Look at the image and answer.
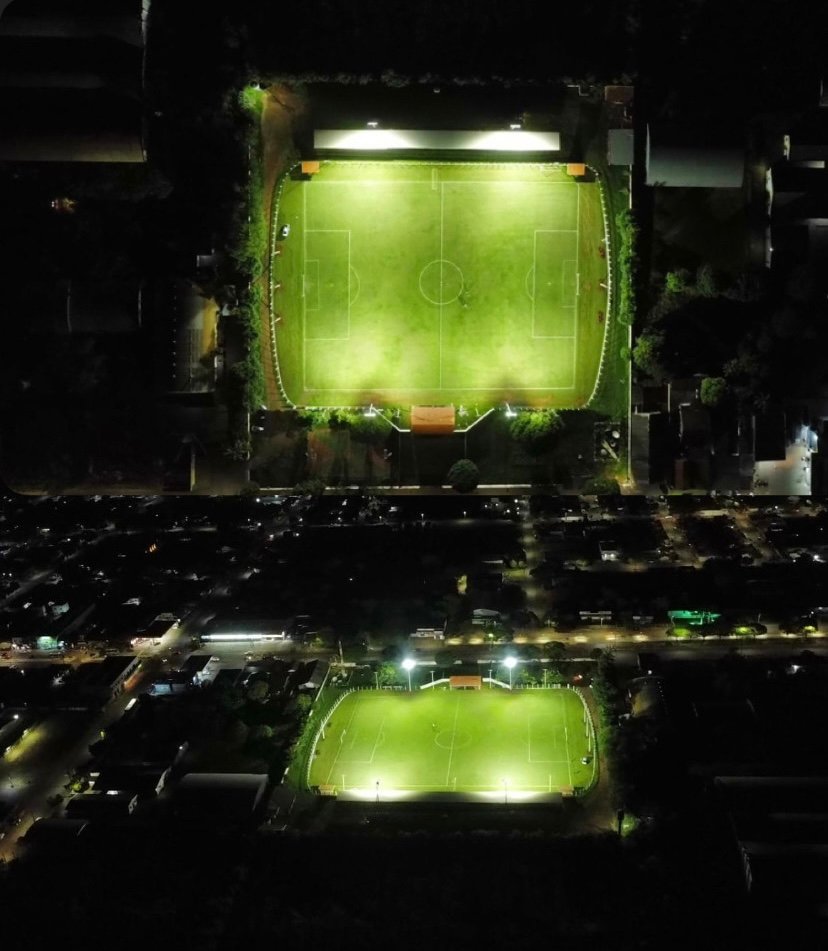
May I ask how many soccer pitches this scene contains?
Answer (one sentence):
Looking from above, you can make out 2 soccer pitches.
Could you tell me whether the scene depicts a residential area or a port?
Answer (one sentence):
This image shows a residential area.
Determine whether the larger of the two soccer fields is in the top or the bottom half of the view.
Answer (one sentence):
You can find the larger of the two soccer fields in the top half.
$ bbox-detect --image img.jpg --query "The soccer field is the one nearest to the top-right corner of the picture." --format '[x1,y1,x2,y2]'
[271,163,609,408]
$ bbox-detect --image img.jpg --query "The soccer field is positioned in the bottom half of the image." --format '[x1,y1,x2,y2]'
[308,690,595,795]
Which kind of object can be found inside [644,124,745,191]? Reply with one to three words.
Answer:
barn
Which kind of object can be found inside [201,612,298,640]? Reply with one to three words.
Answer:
building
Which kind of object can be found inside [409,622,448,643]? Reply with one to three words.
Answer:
house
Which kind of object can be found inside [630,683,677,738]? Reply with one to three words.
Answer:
shed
